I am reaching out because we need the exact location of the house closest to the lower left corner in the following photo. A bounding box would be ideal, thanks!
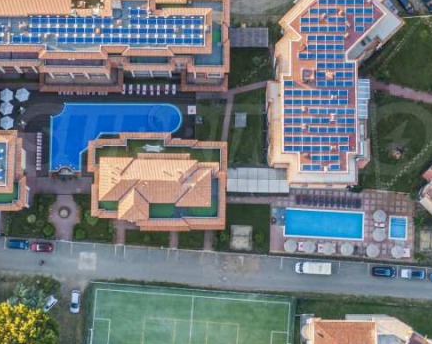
[88,134,227,231]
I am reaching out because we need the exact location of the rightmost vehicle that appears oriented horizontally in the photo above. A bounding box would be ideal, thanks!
[400,268,426,281]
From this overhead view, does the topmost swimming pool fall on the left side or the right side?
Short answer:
left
